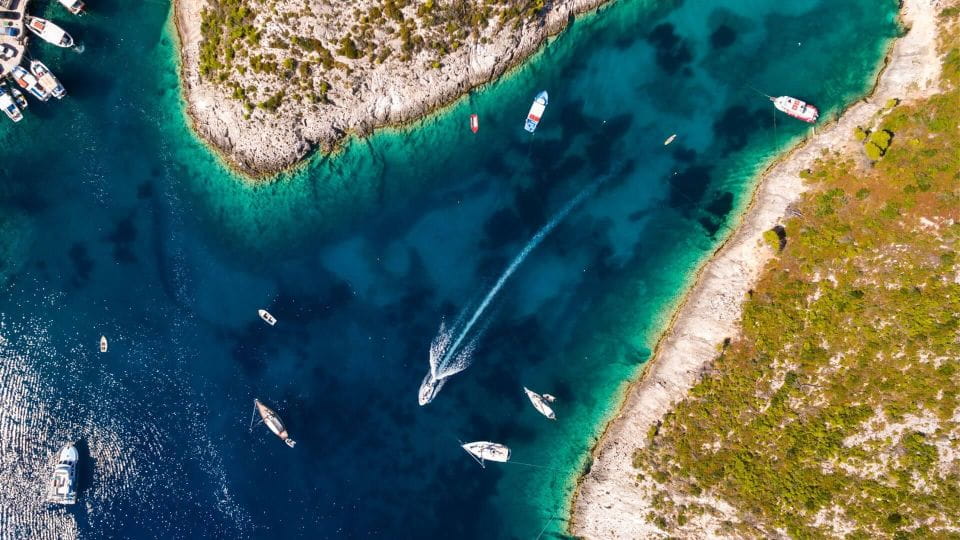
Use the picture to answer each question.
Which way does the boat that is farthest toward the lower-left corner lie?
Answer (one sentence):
From this overhead view, the boat that is farthest toward the lower-left corner appears to run up and down.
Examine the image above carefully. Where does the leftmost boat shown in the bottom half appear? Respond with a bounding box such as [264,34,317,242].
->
[51,430,81,504]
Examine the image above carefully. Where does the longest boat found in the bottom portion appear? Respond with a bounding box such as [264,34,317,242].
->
[459,442,577,474]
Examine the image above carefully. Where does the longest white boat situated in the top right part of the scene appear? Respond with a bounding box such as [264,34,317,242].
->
[754,89,821,127]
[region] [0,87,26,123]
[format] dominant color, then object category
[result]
white boat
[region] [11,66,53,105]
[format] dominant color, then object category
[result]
white boat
